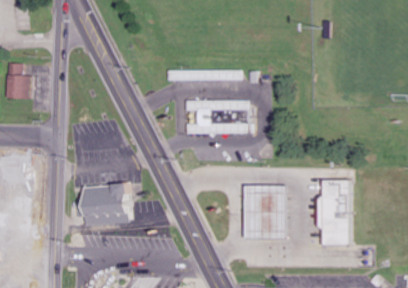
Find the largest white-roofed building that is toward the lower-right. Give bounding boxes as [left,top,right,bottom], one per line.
[314,181,352,246]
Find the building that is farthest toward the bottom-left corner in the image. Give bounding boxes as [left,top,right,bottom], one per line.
[76,183,138,226]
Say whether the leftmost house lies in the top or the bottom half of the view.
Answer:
top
